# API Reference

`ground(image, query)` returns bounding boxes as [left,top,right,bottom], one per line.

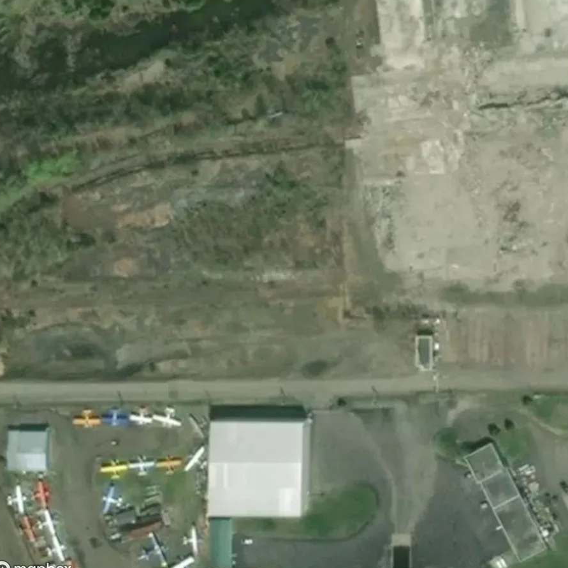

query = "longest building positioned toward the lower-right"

[465,444,550,561]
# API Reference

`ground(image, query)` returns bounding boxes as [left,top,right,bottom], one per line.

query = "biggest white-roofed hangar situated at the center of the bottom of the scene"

[208,421,309,517]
